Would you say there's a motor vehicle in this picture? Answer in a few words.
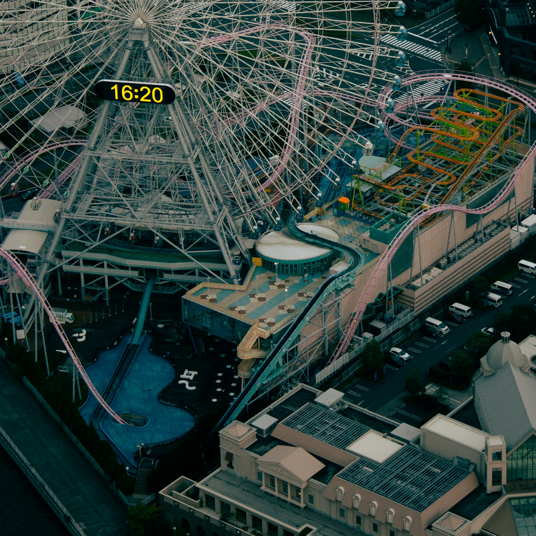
Yes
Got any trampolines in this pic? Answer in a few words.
No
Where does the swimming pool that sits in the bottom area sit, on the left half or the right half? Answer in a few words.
left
